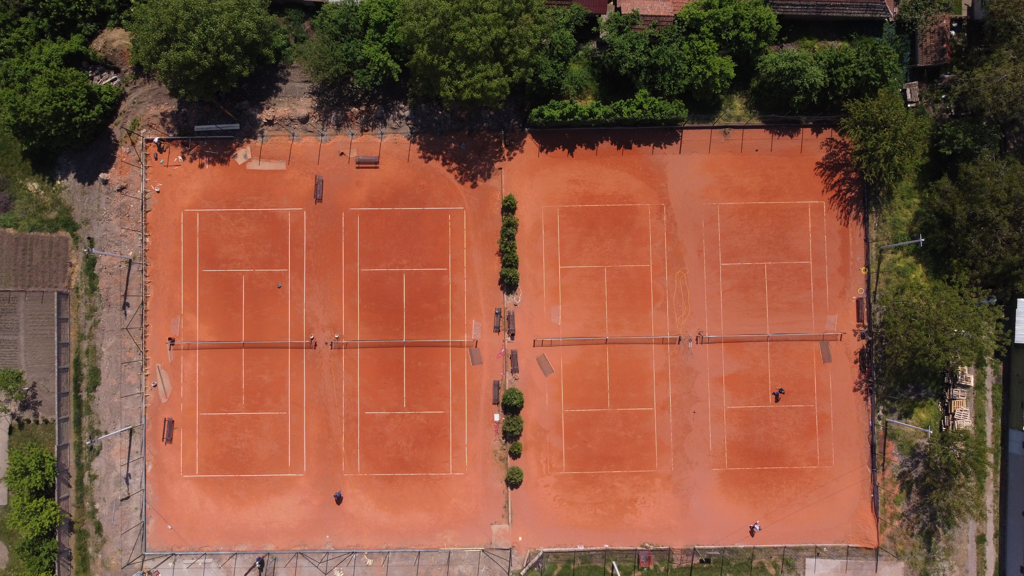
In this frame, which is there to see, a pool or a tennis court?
tennis court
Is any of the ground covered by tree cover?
Yes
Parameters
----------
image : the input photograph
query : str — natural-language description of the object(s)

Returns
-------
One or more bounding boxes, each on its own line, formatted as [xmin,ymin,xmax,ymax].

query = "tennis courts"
[178,207,309,479]
[539,202,676,477]
[699,198,837,470]
[340,206,470,475]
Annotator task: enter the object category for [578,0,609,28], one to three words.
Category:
house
